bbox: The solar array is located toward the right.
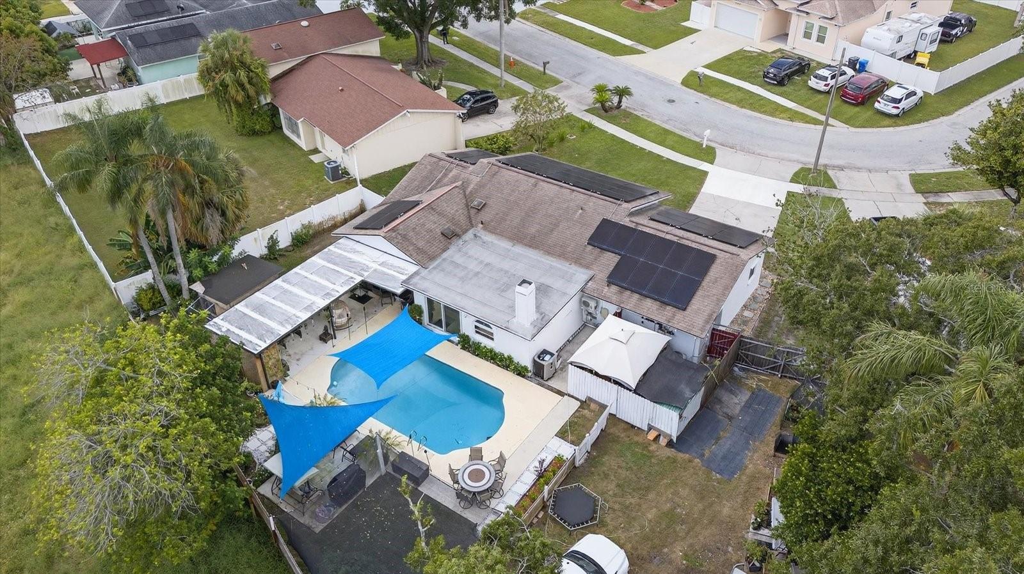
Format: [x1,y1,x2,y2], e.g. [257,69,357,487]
[587,216,717,309]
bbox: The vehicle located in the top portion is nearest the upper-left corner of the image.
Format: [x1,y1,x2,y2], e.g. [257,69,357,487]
[451,86,505,121]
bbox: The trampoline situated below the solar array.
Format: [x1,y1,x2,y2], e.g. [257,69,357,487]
[547,484,609,536]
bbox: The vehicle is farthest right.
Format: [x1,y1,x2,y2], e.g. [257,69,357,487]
[939,17,975,41]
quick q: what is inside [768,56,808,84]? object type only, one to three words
car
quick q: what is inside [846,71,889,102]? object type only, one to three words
car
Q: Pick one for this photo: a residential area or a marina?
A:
residential area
